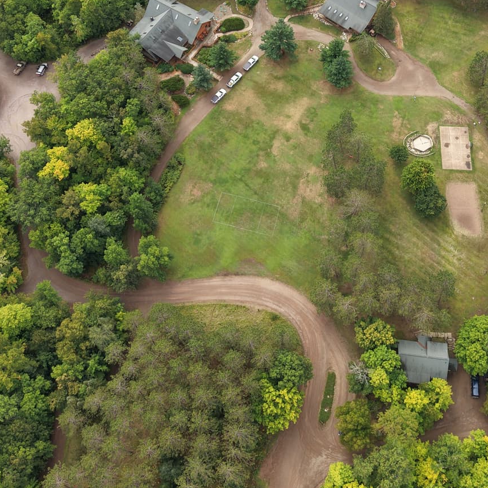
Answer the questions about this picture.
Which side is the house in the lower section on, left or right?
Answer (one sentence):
You can find the house in the lower section on the right side of the picture.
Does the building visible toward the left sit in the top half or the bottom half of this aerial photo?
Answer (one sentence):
You can find the building visible toward the left in the top half.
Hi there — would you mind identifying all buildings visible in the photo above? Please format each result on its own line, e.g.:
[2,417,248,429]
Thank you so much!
[319,0,384,37]
[396,334,457,387]
[128,0,222,67]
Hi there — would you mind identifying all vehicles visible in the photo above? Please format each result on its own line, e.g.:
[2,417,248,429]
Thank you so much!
[470,373,481,400]
[243,55,259,71]
[226,71,243,88]
[210,87,228,104]
[12,61,28,77]
[35,63,49,77]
